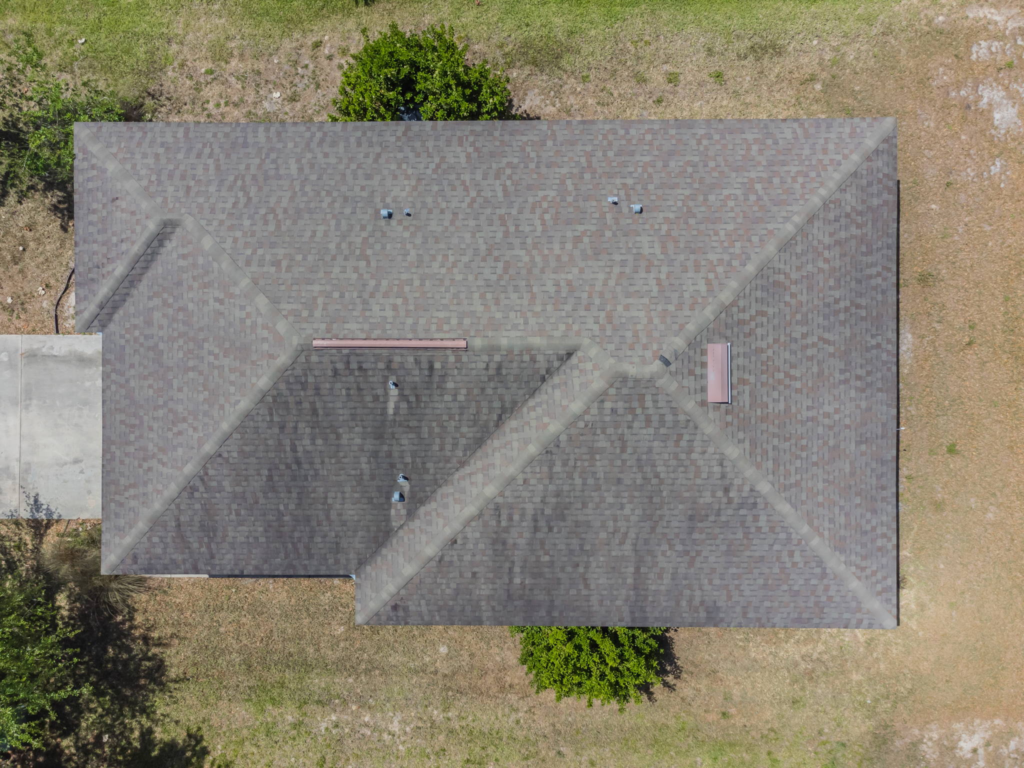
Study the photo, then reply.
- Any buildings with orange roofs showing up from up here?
No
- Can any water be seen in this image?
No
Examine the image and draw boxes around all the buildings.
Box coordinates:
[73,116,905,627]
